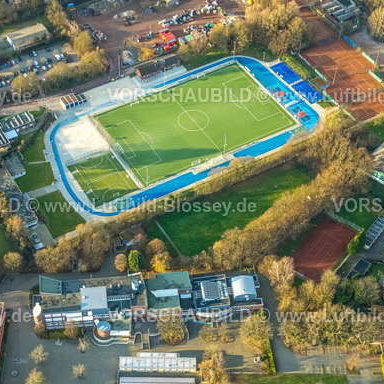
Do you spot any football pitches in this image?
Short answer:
Yes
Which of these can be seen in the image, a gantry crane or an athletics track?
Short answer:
athletics track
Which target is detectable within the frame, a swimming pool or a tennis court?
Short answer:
tennis court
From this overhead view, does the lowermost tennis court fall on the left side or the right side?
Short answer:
right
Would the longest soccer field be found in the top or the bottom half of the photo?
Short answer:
top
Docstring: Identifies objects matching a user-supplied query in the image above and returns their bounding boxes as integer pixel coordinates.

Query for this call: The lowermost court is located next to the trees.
[293,213,359,282]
